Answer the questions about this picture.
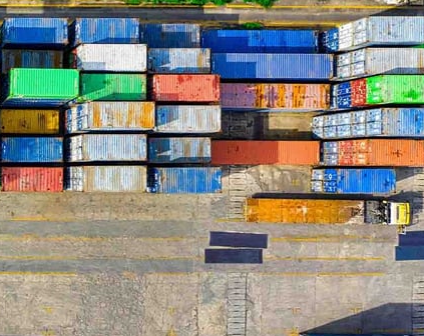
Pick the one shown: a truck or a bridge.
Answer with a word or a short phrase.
truck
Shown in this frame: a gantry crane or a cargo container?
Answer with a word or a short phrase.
cargo container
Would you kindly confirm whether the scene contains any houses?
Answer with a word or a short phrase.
No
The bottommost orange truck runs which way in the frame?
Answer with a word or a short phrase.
horizontally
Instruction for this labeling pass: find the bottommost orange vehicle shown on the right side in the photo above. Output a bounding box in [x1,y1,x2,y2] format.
[243,198,409,231]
